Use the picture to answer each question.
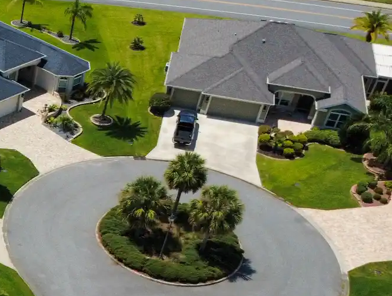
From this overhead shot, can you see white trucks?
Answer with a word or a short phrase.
No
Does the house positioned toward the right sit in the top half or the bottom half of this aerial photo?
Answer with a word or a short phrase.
top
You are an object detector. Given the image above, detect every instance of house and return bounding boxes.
[0,21,91,121]
[165,18,392,136]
